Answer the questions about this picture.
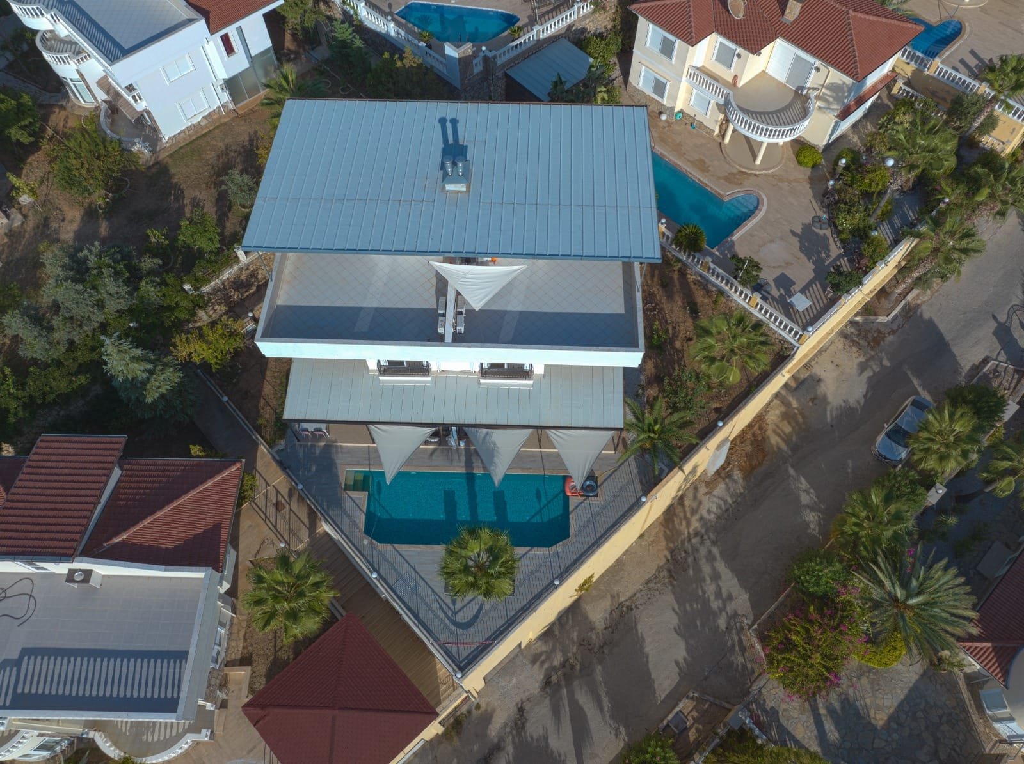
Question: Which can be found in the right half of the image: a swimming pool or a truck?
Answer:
swimming pool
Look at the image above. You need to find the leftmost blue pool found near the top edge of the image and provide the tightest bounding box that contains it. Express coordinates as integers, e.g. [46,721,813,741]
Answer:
[393,1,521,44]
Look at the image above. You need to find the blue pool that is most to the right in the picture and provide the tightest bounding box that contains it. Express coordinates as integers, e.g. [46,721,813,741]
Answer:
[911,14,970,61]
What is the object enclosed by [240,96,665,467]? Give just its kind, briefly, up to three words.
house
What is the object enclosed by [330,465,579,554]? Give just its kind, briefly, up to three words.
swimming pool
